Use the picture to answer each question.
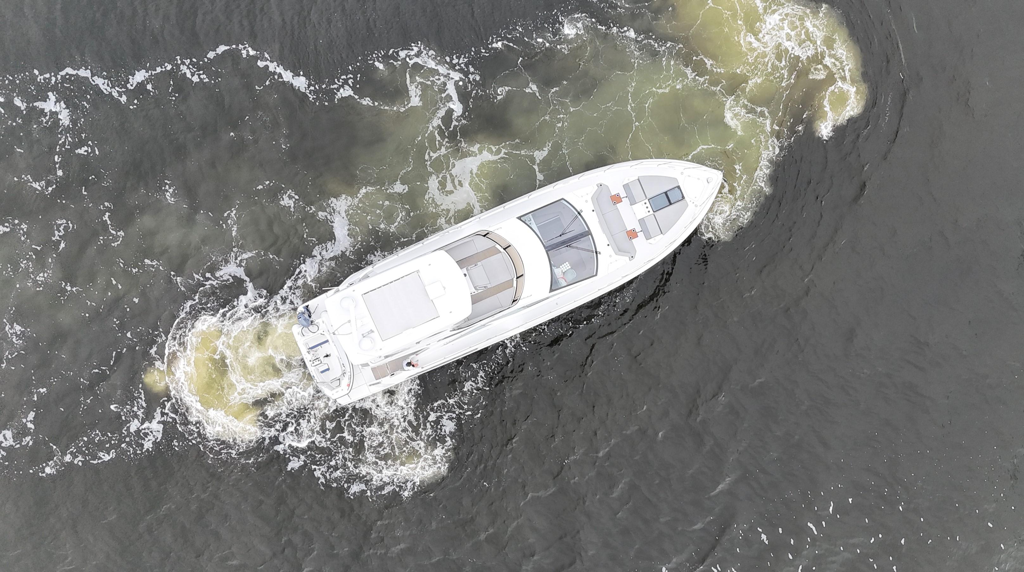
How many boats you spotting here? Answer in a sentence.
My tally gives 2 boats in this view.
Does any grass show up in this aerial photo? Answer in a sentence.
No, there's no grass in this view.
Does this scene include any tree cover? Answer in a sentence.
No, tree cover can't be seen anywhere here.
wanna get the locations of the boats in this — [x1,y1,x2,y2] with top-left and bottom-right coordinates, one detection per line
[292,305,354,400]
[298,158,726,404]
